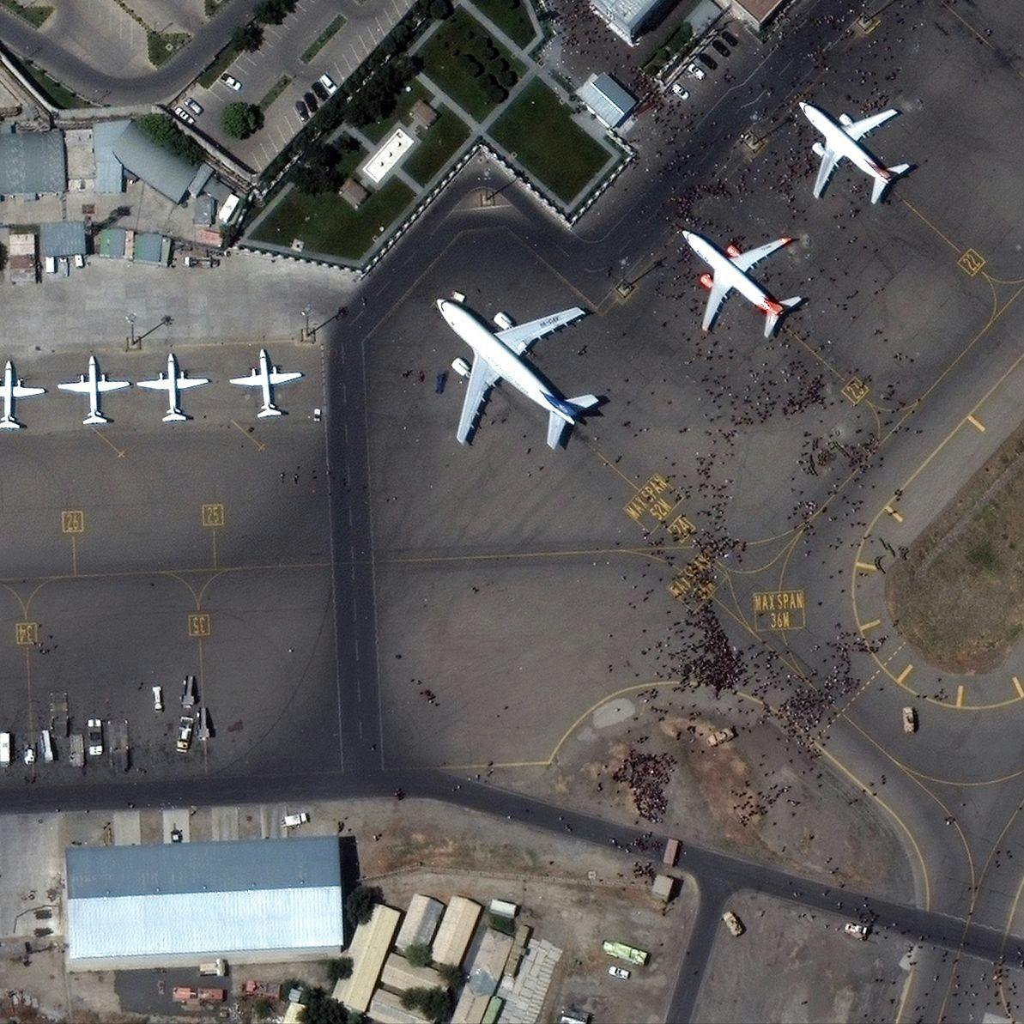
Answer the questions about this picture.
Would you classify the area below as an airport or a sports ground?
airport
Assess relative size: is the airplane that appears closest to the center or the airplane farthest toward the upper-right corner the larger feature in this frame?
the airplane that appears closest to the center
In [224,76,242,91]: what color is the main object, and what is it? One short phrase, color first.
white car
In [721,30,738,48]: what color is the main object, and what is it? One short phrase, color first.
black car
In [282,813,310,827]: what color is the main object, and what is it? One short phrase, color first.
white vehicle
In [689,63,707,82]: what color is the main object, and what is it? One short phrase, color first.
white car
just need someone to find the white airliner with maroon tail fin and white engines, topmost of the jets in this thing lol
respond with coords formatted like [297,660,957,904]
[799,102,911,204]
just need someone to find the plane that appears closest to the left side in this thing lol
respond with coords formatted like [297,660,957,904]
[0,361,45,430]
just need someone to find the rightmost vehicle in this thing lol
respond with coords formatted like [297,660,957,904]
[904,707,916,733]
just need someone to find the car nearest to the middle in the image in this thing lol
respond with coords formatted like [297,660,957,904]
[435,372,447,394]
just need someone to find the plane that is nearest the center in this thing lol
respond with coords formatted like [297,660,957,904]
[436,299,599,448]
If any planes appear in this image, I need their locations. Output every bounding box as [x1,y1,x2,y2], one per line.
[799,102,911,204]
[683,230,804,335]
[137,353,209,422]
[436,299,599,448]
[230,349,301,418]
[0,361,45,430]
[58,356,129,425]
